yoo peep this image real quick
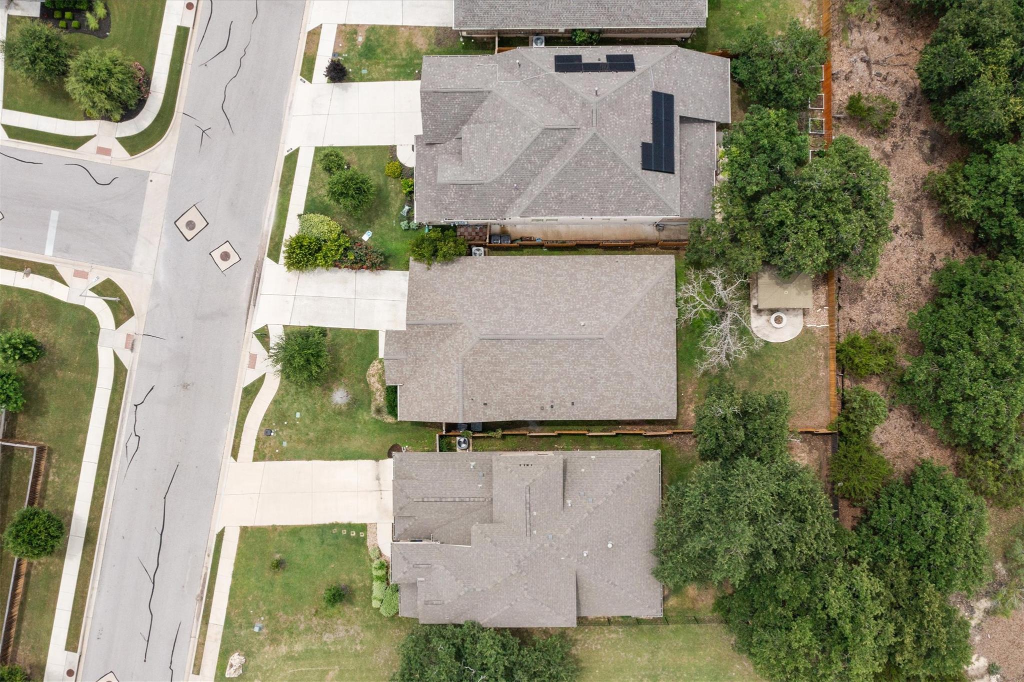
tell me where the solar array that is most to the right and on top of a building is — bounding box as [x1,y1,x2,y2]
[641,90,674,172]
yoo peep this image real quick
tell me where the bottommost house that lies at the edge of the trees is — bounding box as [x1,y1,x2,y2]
[389,449,664,628]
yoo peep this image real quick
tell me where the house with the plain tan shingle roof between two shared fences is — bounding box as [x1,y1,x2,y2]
[385,254,678,422]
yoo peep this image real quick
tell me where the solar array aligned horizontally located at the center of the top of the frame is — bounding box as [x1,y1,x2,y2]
[555,54,636,73]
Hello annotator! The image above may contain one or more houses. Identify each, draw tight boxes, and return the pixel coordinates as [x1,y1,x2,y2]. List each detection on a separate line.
[452,0,709,40]
[415,44,733,225]
[389,449,664,628]
[385,254,678,422]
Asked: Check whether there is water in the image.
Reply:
No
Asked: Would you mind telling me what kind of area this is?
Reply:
residential area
